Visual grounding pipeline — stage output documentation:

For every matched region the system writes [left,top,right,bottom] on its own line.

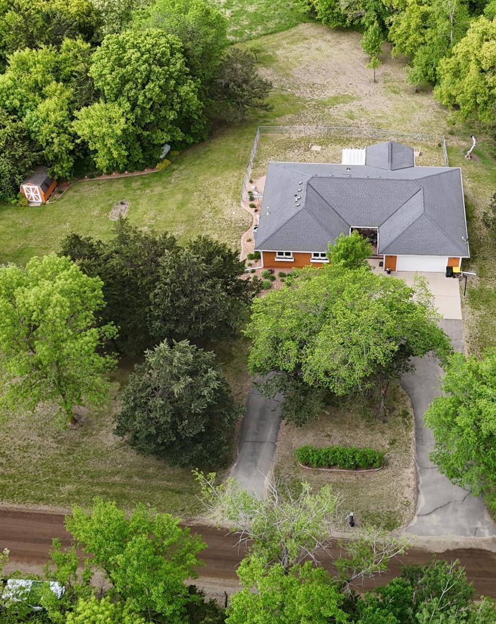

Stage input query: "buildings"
[18,162,56,206]
[253,141,476,276]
